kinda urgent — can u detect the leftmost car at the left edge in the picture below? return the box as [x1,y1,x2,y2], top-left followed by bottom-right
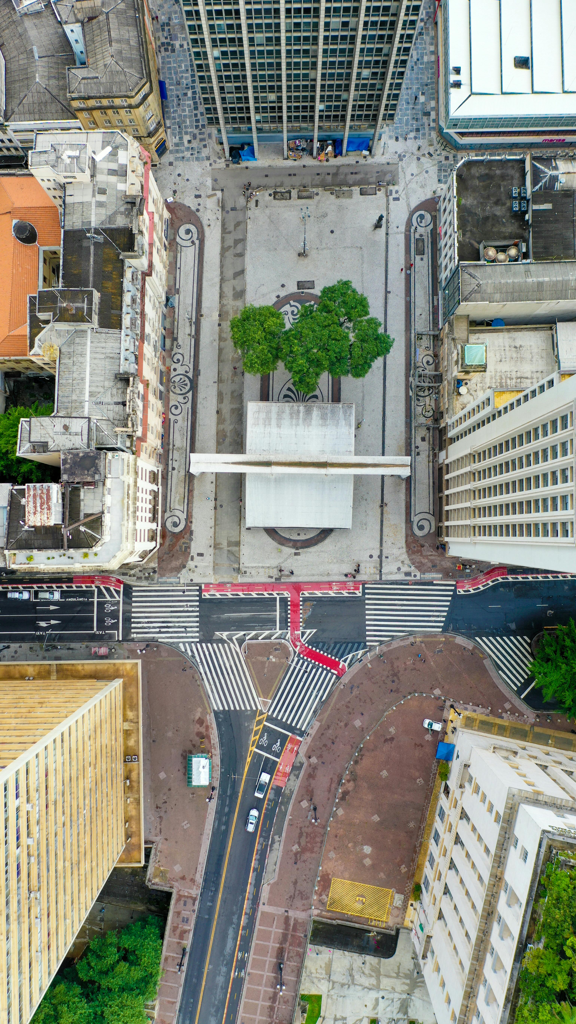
[6,589,31,601]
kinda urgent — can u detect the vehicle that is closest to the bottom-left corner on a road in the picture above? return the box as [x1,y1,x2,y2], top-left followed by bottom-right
[246,807,259,833]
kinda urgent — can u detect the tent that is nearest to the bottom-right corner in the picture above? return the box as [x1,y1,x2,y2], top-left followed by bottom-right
[433,738,458,762]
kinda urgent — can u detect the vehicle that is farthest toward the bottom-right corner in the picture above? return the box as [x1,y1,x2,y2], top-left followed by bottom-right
[421,718,445,735]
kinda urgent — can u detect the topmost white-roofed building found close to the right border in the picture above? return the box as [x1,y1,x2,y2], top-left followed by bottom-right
[432,0,576,152]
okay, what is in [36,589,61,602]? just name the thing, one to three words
vehicle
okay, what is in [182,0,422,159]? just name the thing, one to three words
building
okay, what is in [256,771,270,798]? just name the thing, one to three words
vehicle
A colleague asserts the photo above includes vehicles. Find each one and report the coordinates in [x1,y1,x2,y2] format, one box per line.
[246,807,259,833]
[6,589,31,601]
[36,589,61,602]
[256,771,270,798]
[421,718,445,735]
